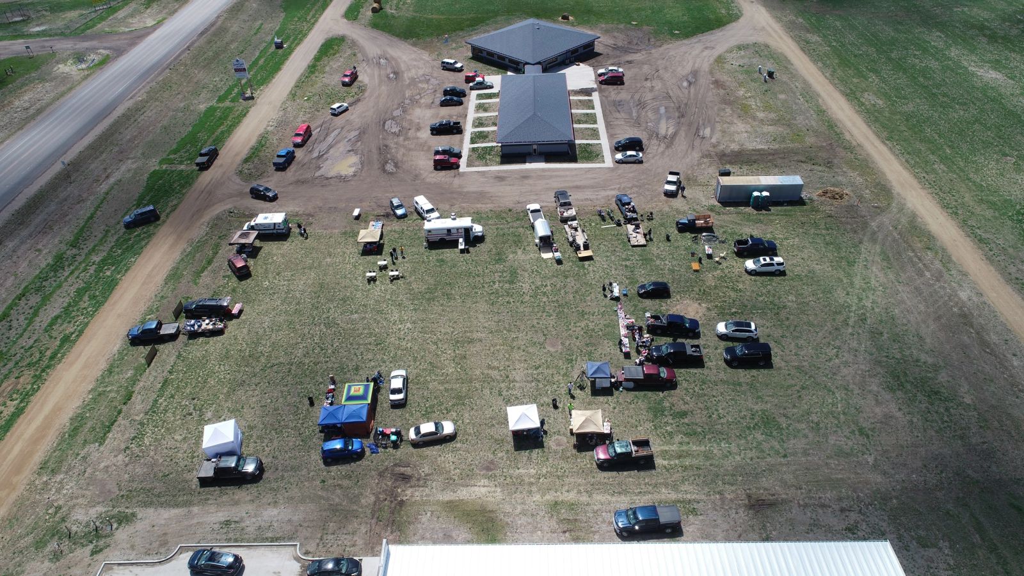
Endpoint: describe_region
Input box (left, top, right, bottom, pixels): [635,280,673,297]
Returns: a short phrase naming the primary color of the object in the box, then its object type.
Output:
black car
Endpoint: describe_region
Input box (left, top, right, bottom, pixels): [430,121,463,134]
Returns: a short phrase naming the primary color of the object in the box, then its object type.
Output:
black vehicle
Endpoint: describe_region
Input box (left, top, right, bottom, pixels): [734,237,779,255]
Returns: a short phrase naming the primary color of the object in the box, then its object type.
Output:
black vehicle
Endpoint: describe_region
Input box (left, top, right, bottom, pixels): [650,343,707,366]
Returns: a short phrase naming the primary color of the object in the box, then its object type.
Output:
black truck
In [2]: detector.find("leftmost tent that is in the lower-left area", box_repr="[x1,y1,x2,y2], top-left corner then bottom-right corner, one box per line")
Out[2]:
[203,419,240,459]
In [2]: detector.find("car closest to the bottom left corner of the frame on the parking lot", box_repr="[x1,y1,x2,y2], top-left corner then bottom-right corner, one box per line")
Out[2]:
[186,548,244,576]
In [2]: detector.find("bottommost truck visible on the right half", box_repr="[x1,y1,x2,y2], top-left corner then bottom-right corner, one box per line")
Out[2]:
[613,507,686,538]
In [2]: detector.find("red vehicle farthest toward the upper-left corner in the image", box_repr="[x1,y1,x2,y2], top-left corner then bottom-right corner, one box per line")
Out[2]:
[293,124,312,142]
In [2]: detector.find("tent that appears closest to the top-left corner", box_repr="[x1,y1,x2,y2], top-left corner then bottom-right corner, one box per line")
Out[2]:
[229,231,261,256]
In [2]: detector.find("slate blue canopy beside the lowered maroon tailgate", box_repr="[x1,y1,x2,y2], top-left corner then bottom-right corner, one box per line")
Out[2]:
[586,362,610,391]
